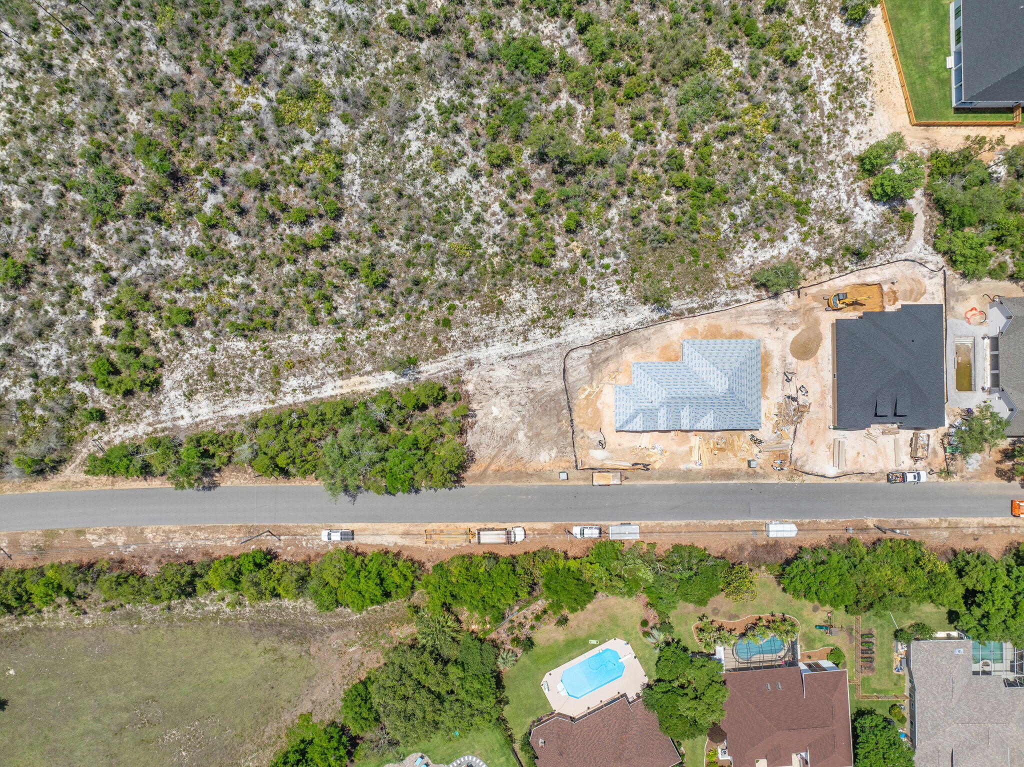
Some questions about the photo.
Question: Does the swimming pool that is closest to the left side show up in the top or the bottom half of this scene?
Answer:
bottom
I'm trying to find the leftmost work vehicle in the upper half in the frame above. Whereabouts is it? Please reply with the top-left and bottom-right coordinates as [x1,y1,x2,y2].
[824,292,876,311]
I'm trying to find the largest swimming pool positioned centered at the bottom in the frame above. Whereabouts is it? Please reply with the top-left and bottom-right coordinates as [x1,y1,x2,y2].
[541,638,648,719]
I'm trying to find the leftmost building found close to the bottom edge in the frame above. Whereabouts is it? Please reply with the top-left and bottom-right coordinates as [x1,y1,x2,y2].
[530,687,681,767]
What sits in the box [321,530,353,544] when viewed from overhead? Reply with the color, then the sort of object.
white vehicle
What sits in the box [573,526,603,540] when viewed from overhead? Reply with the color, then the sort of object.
white vehicle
